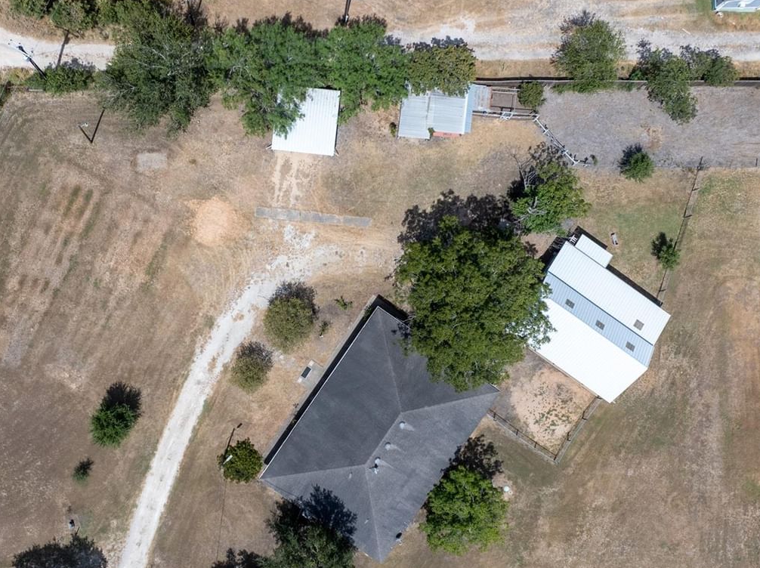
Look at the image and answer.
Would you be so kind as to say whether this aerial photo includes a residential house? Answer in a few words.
Yes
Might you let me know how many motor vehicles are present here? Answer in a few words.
0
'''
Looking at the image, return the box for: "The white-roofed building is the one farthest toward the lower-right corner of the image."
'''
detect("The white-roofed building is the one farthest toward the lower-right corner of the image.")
[512,234,670,403]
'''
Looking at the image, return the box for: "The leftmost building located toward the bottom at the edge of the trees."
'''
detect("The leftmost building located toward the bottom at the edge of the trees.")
[261,306,499,563]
